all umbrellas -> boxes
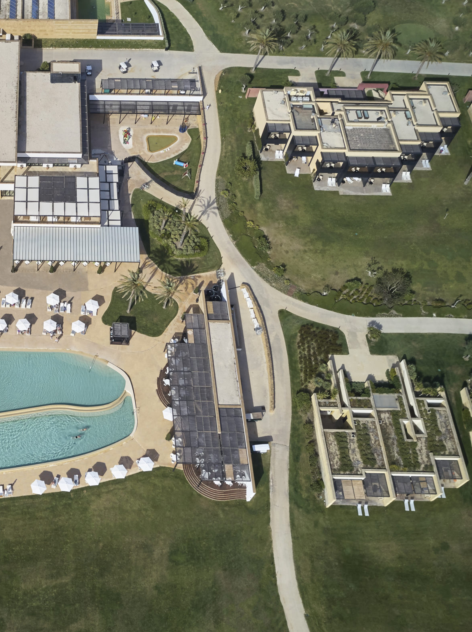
[30,480,47,496]
[4,292,18,306]
[85,471,102,487]
[58,478,75,493]
[138,457,155,473]
[110,464,128,479]
[162,406,177,422]
[85,299,99,313]
[15,318,30,331]
[46,293,59,307]
[71,320,85,334]
[0,319,7,332]
[43,320,57,333]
